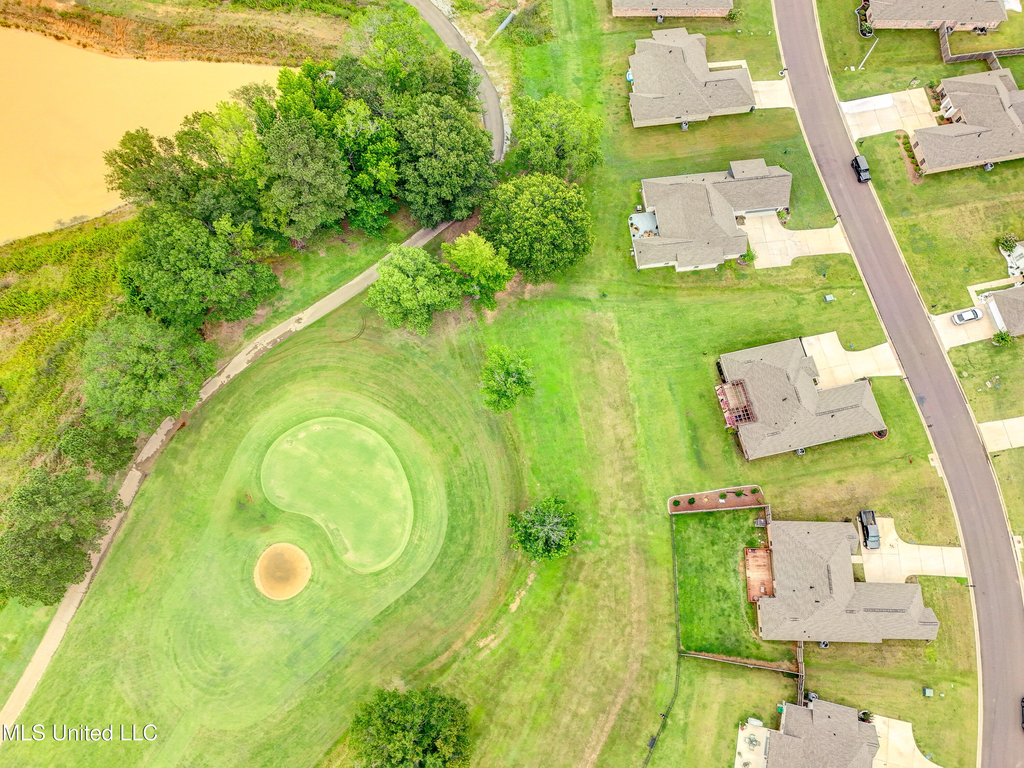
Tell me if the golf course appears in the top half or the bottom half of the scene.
bottom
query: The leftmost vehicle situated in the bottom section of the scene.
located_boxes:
[859,512,882,555]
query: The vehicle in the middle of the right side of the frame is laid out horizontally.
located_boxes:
[951,308,984,325]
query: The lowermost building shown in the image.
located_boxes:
[763,697,879,768]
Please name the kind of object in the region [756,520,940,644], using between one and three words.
house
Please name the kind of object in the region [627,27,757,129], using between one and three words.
house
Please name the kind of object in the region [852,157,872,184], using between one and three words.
car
